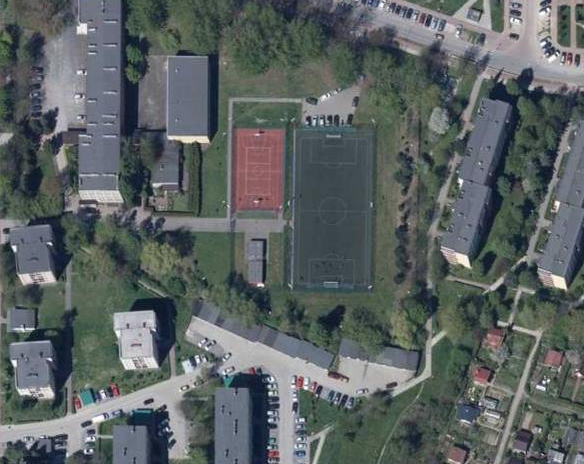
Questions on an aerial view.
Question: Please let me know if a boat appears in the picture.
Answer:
No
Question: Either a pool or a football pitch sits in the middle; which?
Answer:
football pitch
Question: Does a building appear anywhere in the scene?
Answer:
Yes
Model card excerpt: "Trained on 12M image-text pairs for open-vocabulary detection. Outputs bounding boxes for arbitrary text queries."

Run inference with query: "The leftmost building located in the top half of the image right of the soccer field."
[440,96,511,267]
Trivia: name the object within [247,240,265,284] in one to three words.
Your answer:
building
